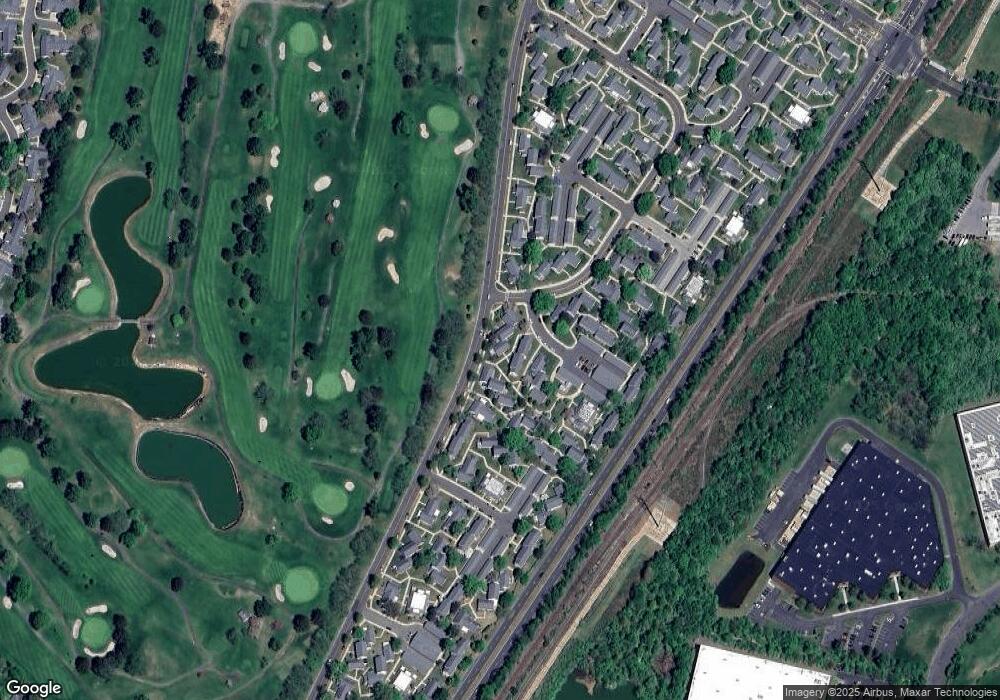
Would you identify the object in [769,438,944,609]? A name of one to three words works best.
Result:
warehouse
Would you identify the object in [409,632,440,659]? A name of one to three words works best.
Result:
building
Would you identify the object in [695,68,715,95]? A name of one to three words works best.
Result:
house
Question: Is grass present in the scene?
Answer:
Yes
